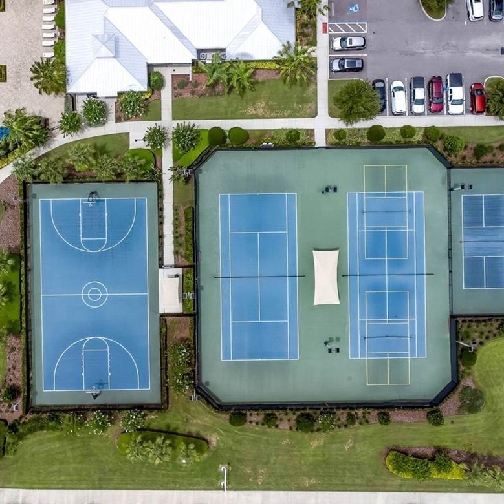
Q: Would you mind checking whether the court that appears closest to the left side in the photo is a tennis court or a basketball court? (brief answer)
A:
basketball court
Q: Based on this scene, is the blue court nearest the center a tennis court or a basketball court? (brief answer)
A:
tennis court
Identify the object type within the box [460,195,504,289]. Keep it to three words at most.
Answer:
sports court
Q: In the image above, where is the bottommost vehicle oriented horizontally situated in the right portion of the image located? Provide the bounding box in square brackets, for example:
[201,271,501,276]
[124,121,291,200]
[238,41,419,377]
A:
[329,57,364,73]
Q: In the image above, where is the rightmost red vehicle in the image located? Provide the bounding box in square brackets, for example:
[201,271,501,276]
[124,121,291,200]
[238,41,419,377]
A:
[469,83,486,115]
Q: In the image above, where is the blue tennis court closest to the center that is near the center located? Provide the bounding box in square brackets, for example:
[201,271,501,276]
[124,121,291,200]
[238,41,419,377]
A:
[214,193,305,362]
